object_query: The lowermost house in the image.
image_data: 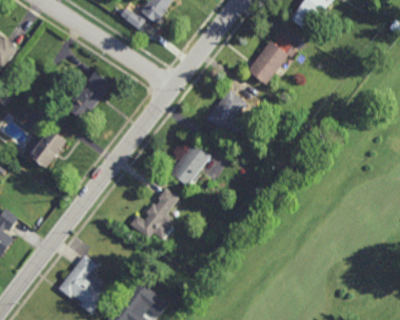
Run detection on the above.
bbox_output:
[112,286,164,320]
